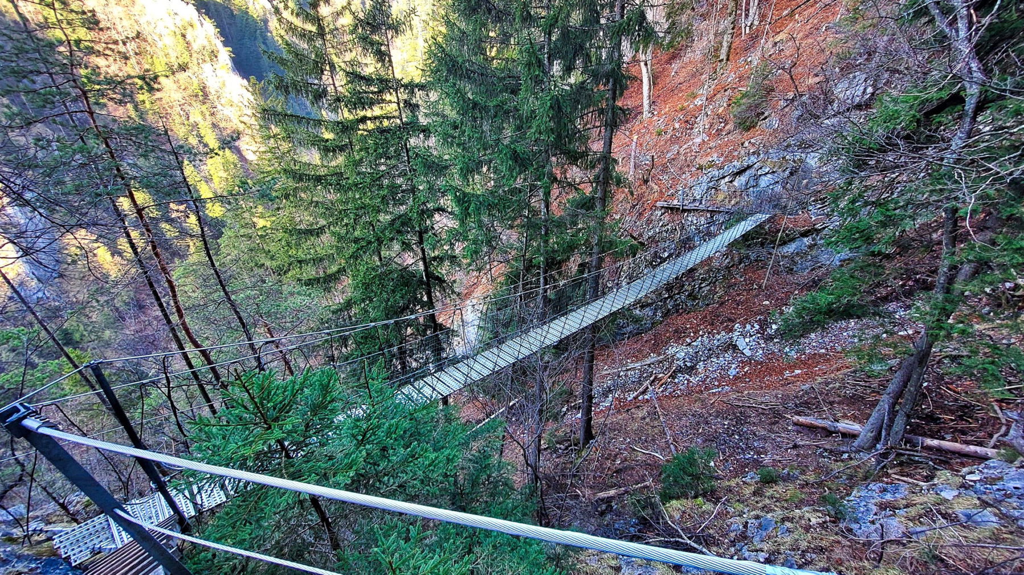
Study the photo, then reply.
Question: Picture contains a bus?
No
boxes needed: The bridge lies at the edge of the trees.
[0,169,807,517]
